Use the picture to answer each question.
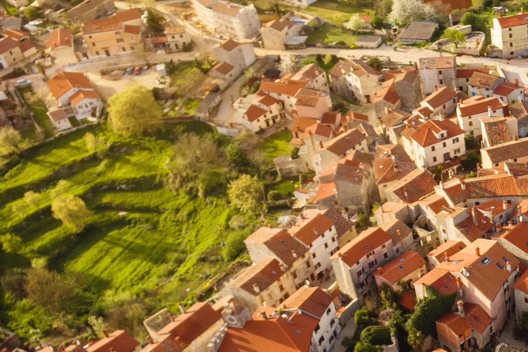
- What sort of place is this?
residential area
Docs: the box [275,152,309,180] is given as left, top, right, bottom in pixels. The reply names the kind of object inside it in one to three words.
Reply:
shed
